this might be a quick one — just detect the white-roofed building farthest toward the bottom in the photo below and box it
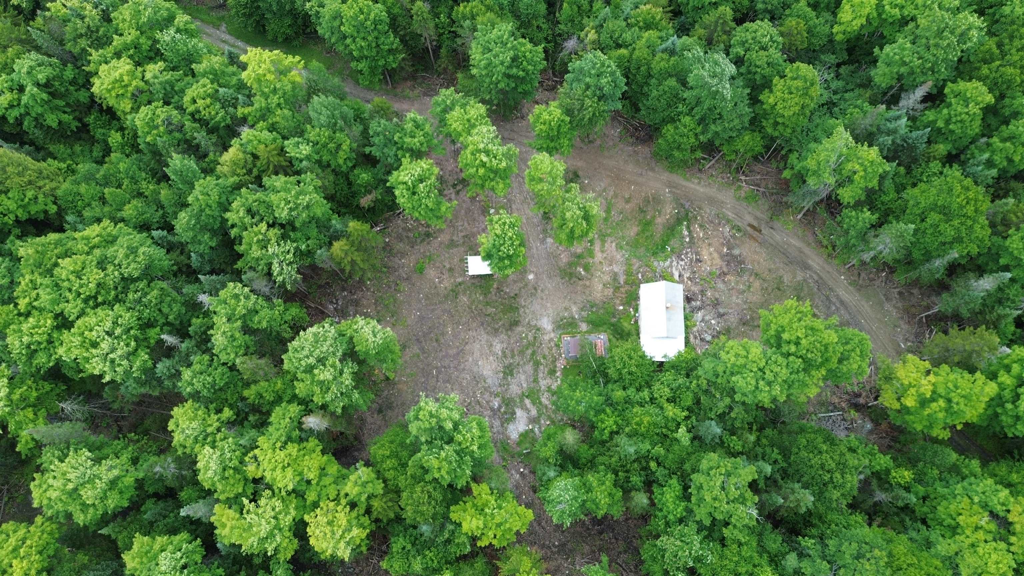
[638,281,685,363]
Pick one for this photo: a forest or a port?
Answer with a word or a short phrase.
forest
